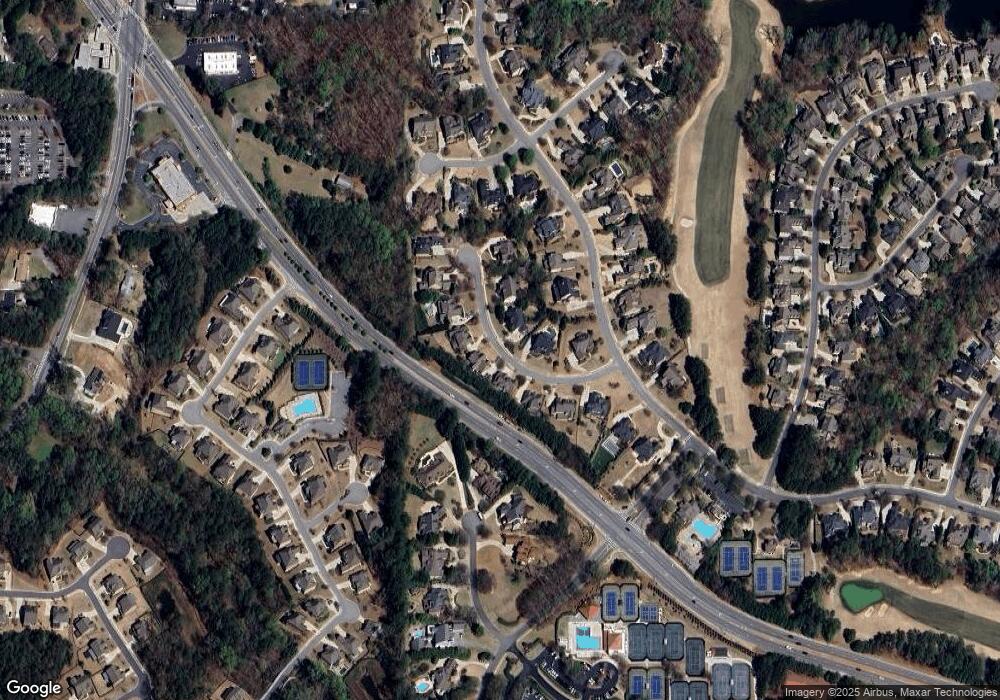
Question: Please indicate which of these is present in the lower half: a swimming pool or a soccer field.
swimming pool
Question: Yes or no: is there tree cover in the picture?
Yes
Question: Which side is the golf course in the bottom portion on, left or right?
right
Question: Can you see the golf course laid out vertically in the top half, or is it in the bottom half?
top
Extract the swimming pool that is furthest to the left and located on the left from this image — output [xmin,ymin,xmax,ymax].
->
[120,316,135,338]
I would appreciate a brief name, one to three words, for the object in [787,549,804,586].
tennis court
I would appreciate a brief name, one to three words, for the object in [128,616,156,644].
house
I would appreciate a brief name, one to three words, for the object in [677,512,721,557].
swimming pool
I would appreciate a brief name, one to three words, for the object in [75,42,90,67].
building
